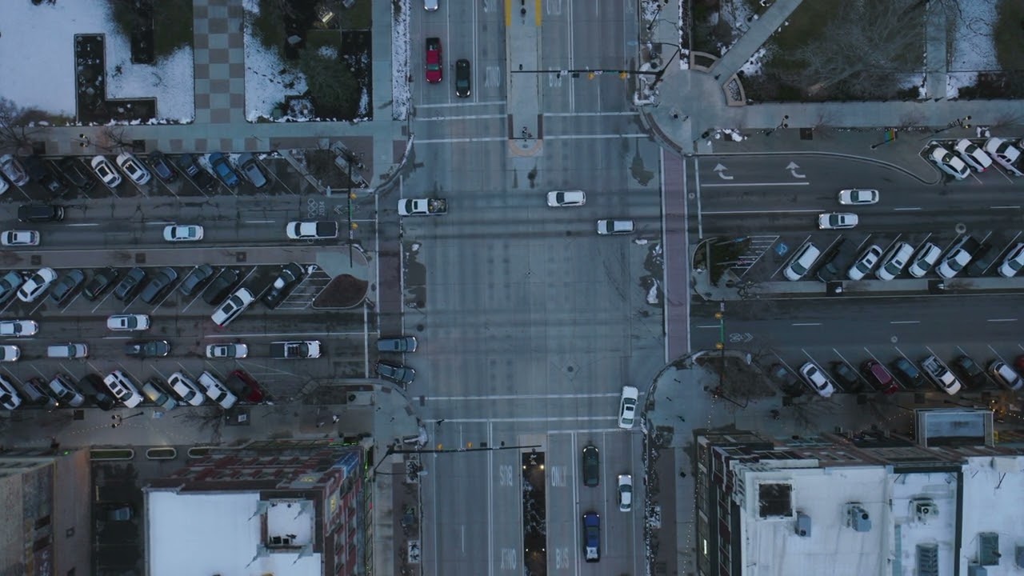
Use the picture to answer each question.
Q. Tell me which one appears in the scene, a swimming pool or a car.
car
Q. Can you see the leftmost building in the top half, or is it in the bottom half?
bottom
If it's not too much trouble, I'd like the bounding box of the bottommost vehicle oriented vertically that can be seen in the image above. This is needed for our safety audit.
[582,512,602,562]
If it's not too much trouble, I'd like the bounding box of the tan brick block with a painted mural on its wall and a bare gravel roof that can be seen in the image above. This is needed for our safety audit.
[0,445,90,576]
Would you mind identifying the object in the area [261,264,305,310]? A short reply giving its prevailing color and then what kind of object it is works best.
black truck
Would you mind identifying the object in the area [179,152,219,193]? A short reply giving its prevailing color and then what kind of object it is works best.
black truck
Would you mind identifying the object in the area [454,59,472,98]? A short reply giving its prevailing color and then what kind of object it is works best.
black car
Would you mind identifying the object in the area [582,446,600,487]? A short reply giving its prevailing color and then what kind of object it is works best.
black car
